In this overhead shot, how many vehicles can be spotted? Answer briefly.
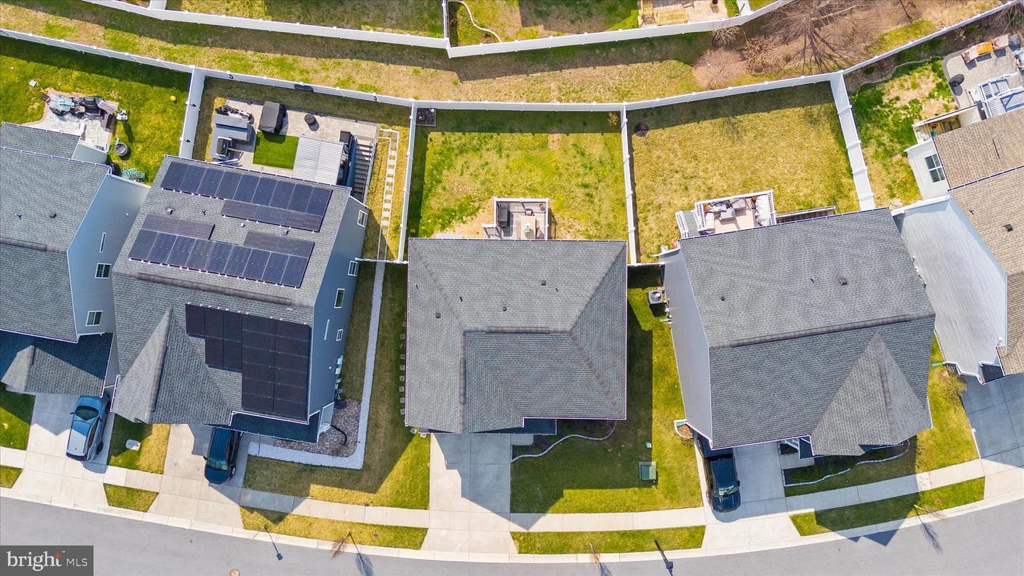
3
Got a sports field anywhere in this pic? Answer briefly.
No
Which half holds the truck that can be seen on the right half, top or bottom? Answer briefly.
bottom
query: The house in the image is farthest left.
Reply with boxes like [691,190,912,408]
[0,119,152,397]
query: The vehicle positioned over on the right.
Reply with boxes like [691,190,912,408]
[698,434,743,512]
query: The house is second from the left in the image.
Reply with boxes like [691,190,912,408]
[108,153,366,446]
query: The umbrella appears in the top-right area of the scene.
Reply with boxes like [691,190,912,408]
[953,70,976,84]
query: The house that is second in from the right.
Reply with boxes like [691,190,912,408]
[654,205,936,462]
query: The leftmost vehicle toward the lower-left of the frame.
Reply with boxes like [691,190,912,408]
[64,395,110,465]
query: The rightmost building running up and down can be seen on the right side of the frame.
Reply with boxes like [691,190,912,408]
[900,107,1024,393]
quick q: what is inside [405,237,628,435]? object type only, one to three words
house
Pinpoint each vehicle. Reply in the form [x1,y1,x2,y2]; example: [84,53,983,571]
[698,434,743,512]
[64,395,110,465]
[202,427,242,484]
